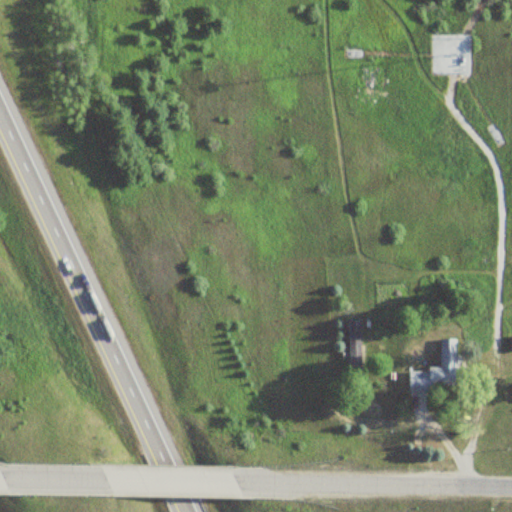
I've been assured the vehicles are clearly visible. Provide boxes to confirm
[78,272,114,340]
[62,256,72,271]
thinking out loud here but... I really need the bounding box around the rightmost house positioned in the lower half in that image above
[410,338,466,392]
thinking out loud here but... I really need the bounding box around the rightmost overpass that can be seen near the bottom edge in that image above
[102,464,244,497]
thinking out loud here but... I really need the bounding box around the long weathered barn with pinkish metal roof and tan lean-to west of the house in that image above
[350,318,366,366]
